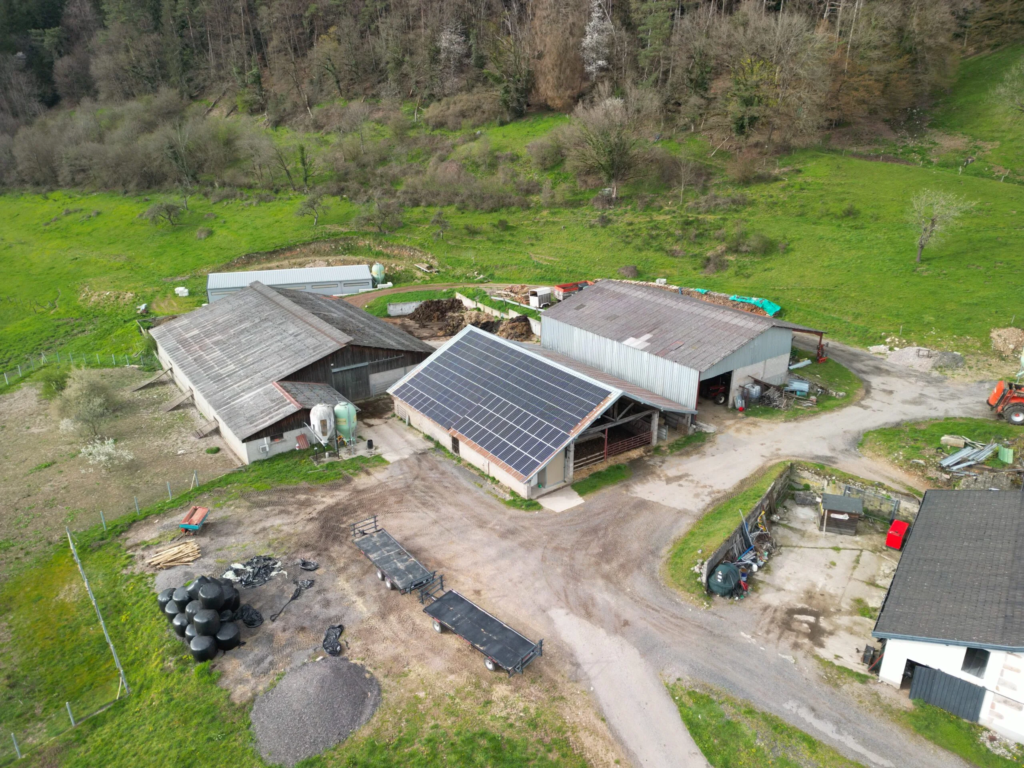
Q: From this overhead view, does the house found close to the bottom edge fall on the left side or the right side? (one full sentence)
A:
It is on the right.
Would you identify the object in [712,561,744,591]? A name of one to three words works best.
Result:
storage tank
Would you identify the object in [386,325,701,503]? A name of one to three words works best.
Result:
barn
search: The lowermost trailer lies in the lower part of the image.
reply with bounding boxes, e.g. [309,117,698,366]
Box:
[410,573,547,679]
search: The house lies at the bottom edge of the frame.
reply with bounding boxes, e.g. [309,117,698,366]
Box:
[865,495,1024,742]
